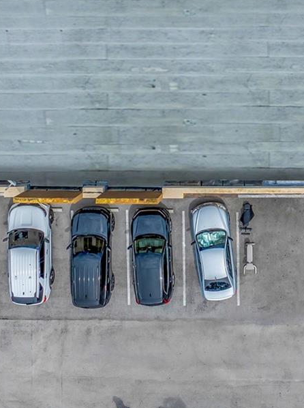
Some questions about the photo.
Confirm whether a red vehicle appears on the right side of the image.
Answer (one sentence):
No, no red vehicle appears on the right side of the image.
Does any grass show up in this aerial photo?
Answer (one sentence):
No, grass can't be seen anywhere here.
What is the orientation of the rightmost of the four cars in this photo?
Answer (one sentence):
From this overhead view, the rightmost of the four cars appears to run up and down.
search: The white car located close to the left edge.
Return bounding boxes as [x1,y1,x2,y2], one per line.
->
[1,206,57,306]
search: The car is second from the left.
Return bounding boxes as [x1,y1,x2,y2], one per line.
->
[63,205,115,309]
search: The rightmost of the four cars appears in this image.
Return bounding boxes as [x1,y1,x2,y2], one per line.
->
[189,201,238,303]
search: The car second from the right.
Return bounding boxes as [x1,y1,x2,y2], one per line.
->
[125,207,174,307]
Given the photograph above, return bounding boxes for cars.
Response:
[125,207,174,307]
[189,201,238,303]
[1,206,57,306]
[63,205,115,309]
